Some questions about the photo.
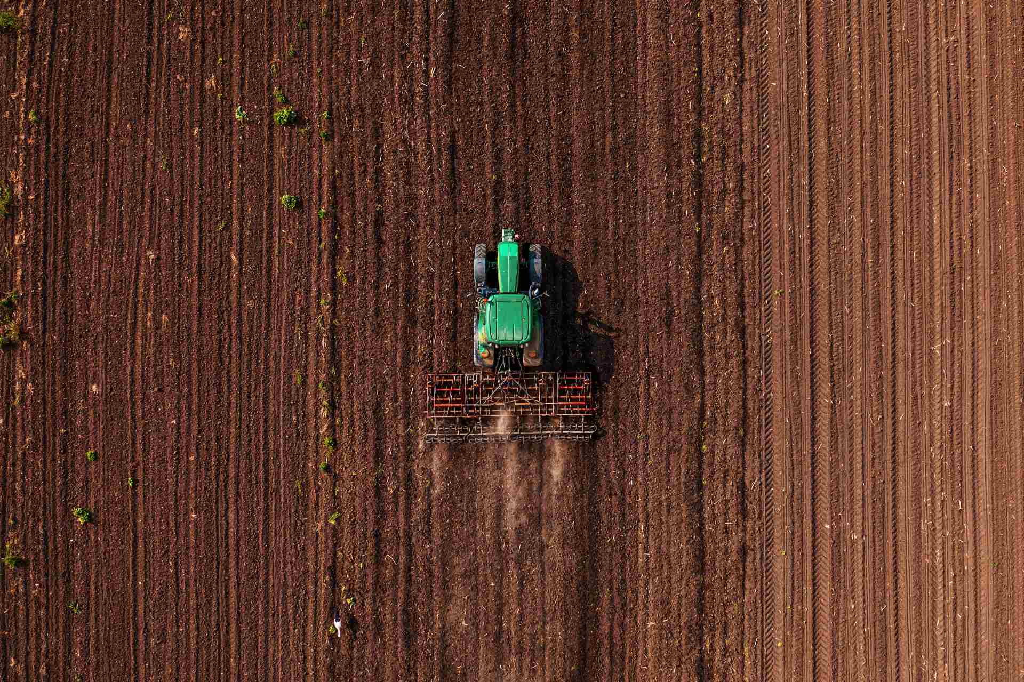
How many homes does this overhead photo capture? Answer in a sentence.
There are no homes in the image.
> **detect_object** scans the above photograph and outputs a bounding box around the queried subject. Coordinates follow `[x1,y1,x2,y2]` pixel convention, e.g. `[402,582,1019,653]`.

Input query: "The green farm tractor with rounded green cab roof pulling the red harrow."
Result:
[467,229,547,379]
